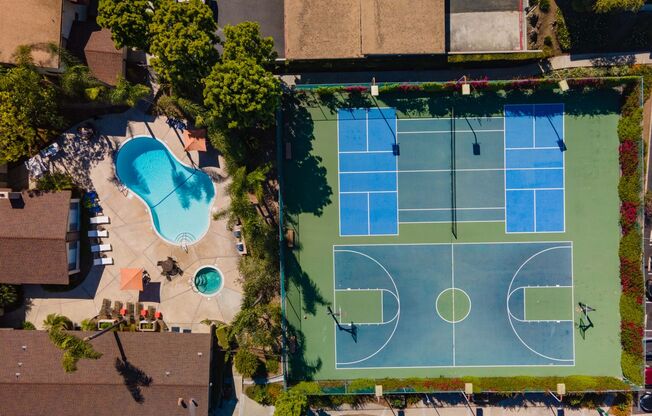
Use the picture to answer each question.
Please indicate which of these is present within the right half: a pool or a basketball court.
basketball court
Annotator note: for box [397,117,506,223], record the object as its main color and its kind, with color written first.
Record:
blue tennis court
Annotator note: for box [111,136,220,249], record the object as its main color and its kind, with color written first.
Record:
blue swimming pool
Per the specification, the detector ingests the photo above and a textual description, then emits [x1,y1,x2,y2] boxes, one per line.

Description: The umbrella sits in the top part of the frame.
[185,129,207,151]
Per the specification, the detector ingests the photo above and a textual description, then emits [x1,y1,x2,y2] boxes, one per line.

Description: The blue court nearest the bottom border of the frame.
[333,241,575,368]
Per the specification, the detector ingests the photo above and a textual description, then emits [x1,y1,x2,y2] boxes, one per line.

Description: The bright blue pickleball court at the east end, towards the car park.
[504,103,565,233]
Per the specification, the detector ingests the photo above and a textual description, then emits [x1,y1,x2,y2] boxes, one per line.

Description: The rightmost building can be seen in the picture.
[285,0,445,65]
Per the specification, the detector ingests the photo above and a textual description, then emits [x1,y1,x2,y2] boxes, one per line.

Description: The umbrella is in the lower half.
[121,269,143,290]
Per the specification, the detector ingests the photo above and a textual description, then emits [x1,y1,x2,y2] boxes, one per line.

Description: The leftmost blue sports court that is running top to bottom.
[337,107,398,236]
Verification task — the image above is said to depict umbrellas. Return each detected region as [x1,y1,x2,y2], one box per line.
[121,269,143,290]
[185,129,207,151]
